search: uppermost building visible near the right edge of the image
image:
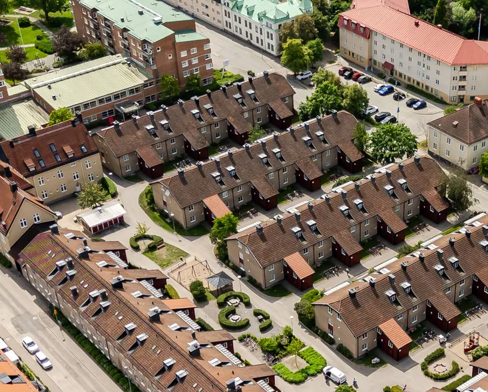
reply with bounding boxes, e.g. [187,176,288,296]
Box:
[340,0,488,100]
